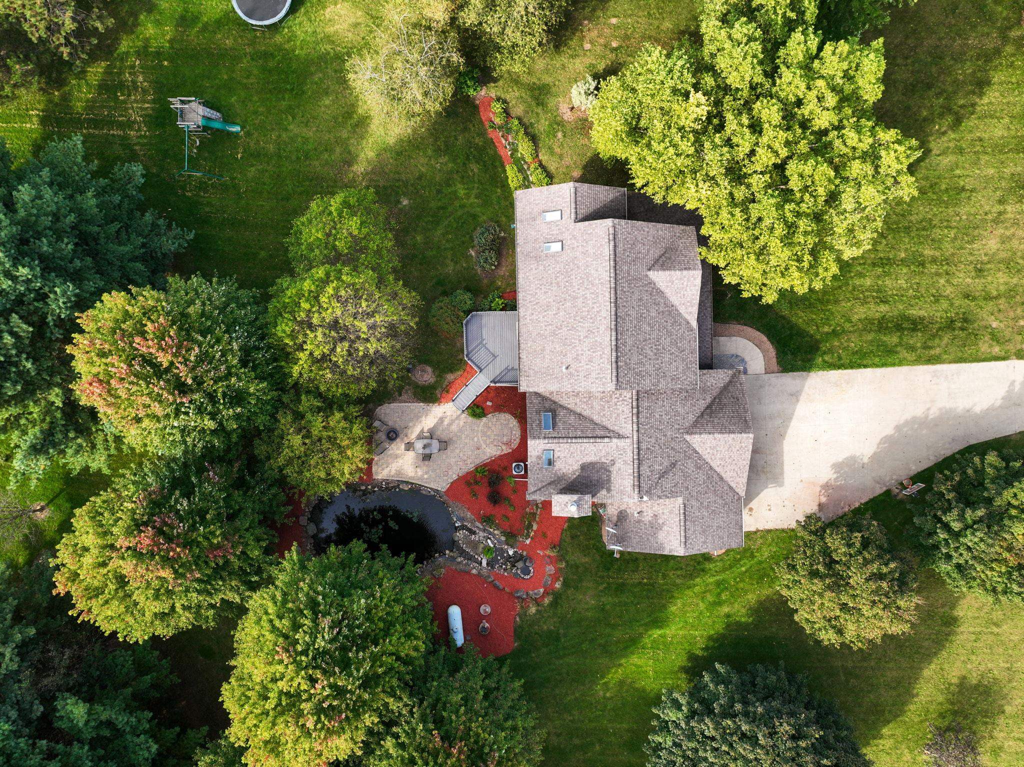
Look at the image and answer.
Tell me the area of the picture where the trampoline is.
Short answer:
top left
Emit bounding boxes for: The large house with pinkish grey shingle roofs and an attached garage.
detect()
[513,183,753,556]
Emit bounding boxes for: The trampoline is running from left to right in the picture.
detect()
[231,0,296,31]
